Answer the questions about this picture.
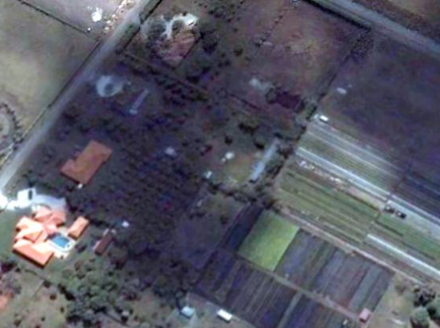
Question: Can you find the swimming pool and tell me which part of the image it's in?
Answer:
bottom left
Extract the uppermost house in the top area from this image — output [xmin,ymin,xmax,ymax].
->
[166,31,197,64]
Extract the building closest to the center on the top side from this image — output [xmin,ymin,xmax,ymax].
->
[275,89,301,110]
